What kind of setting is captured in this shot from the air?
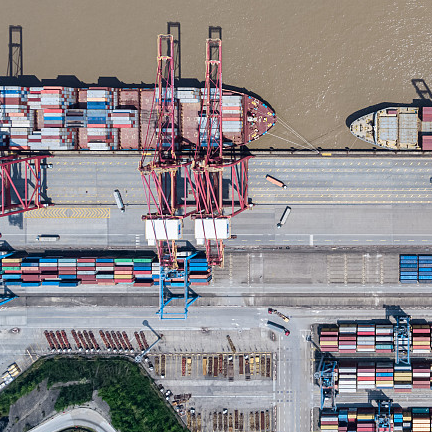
port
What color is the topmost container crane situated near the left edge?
red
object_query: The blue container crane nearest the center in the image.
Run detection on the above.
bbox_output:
[159,253,200,319]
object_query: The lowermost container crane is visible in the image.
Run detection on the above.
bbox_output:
[377,387,395,432]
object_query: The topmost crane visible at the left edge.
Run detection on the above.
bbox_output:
[0,156,58,237]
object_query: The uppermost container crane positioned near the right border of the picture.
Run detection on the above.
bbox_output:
[392,307,412,362]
